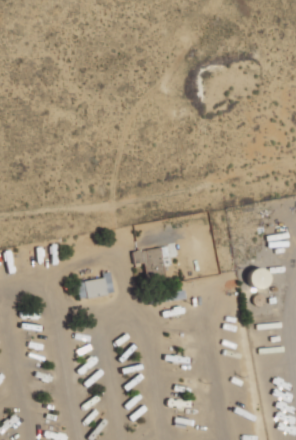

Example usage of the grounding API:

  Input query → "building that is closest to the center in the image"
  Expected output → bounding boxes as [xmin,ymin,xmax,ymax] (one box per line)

[134,244,178,281]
